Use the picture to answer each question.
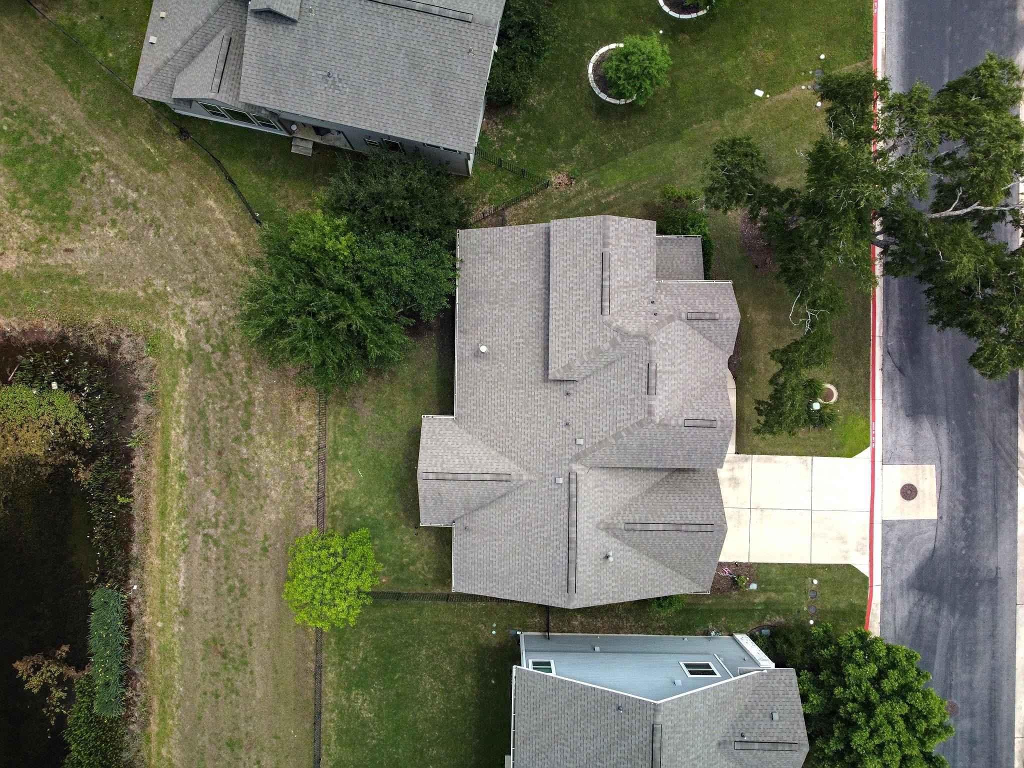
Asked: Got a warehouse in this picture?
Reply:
No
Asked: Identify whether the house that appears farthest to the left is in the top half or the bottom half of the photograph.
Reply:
top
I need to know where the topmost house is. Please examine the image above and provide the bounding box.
[132,0,511,181]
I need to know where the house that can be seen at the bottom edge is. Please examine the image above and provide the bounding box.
[510,628,809,768]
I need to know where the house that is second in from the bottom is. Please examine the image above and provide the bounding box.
[418,215,741,609]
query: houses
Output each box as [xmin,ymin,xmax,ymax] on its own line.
[510,628,809,768]
[132,0,511,181]
[418,215,741,609]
